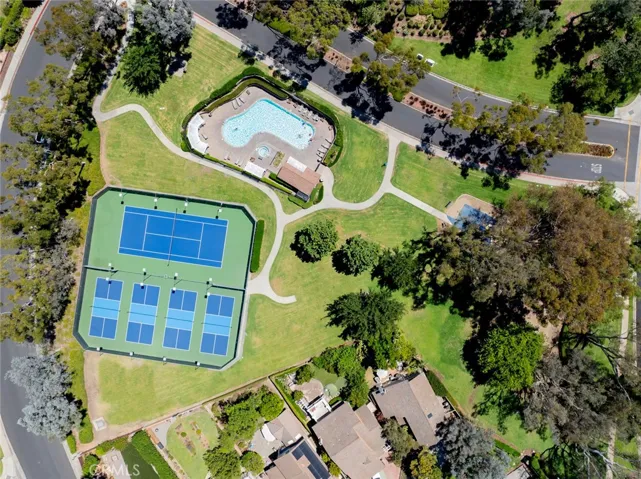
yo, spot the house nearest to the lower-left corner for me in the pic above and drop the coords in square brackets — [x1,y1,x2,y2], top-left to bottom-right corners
[266,436,332,479]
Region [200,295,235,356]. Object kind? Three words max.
sports court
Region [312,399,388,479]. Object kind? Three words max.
house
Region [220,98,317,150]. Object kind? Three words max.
swimming pool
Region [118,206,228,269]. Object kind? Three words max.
tennis court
